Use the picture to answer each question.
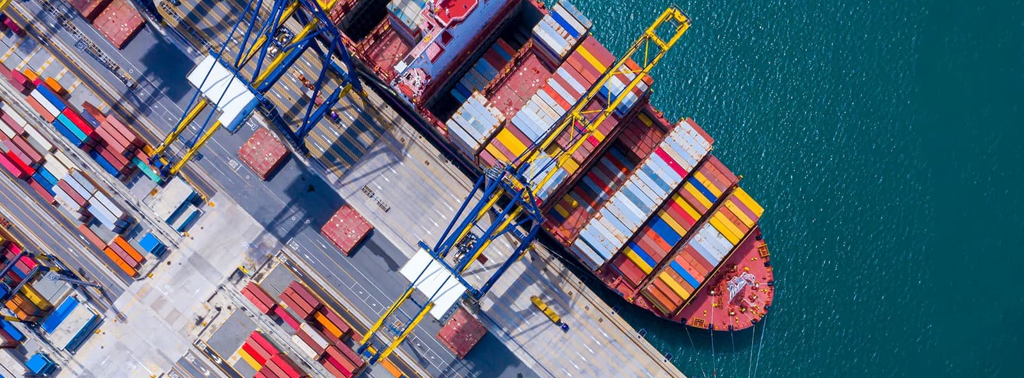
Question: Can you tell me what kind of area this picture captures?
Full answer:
It's a port.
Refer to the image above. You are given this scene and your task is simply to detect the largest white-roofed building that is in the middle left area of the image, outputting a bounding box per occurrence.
[148,177,200,234]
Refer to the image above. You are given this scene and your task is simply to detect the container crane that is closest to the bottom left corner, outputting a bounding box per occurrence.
[0,250,71,332]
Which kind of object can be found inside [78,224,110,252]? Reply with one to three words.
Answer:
shipping container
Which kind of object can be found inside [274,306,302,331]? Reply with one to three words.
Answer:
shipping container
